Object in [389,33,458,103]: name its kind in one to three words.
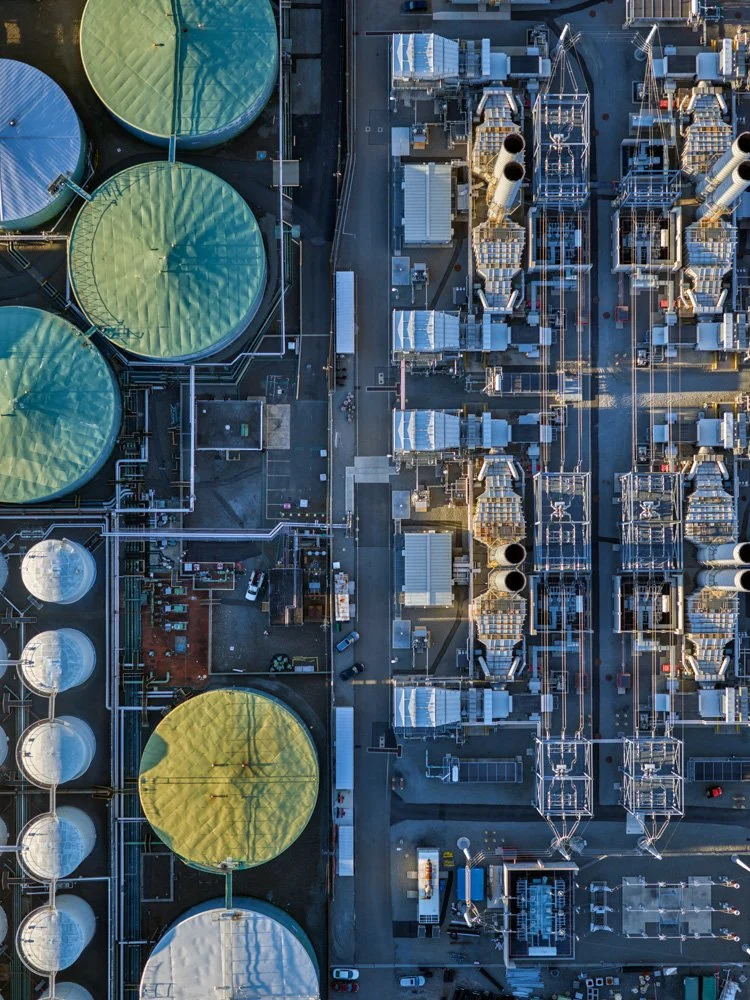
house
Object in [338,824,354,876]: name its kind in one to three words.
trailer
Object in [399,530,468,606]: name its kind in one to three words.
building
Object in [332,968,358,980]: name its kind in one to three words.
vehicle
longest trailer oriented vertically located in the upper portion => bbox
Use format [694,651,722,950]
[335,271,354,356]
